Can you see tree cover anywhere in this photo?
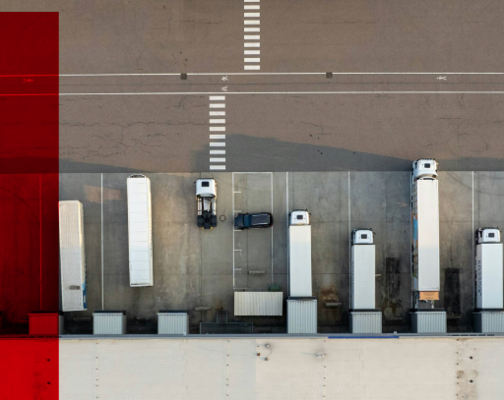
No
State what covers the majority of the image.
paved ground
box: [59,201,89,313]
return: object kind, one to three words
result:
trailer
